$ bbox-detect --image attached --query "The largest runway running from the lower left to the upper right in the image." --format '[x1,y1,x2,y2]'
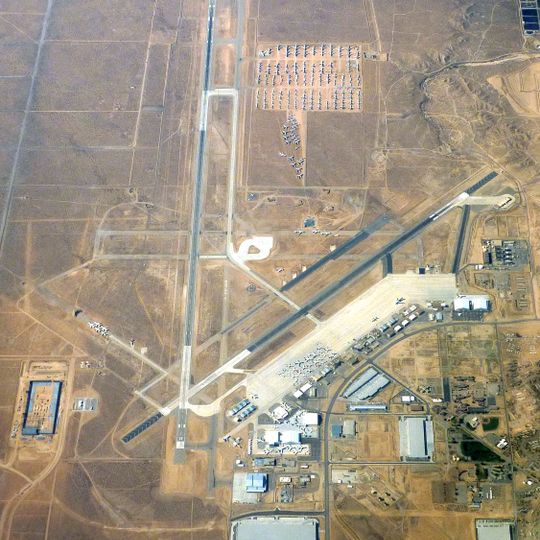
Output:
[121,175,496,443]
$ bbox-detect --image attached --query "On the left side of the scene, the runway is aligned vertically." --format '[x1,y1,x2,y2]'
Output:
[173,0,217,464]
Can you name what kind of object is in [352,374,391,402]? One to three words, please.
building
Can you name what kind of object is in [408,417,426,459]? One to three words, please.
building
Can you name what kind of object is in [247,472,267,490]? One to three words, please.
hangar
